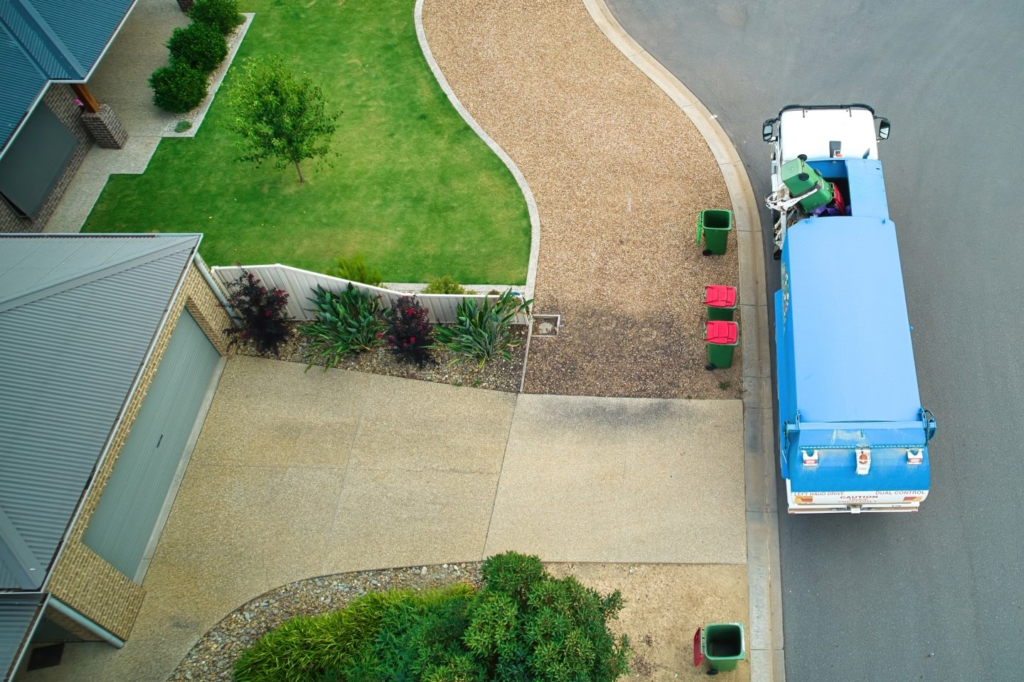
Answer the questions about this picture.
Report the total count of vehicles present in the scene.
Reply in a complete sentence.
The photo contains exactly 1 vehicle.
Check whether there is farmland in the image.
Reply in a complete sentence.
No, the picture contains no farmland.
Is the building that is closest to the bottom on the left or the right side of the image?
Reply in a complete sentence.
You can find the building that is closest to the bottom on the left side of the picture.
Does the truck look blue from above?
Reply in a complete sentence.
Yes, blue is the color of the truck.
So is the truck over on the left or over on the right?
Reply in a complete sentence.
The truck appears in the right half of the scene.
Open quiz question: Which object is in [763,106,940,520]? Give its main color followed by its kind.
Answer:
blue truck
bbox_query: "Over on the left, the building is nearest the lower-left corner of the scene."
[0,227,242,682]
